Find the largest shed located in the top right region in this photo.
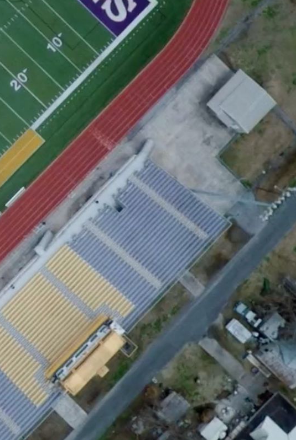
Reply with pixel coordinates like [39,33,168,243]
[199,69,276,140]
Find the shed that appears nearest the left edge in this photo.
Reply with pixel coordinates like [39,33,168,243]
[153,387,189,423]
